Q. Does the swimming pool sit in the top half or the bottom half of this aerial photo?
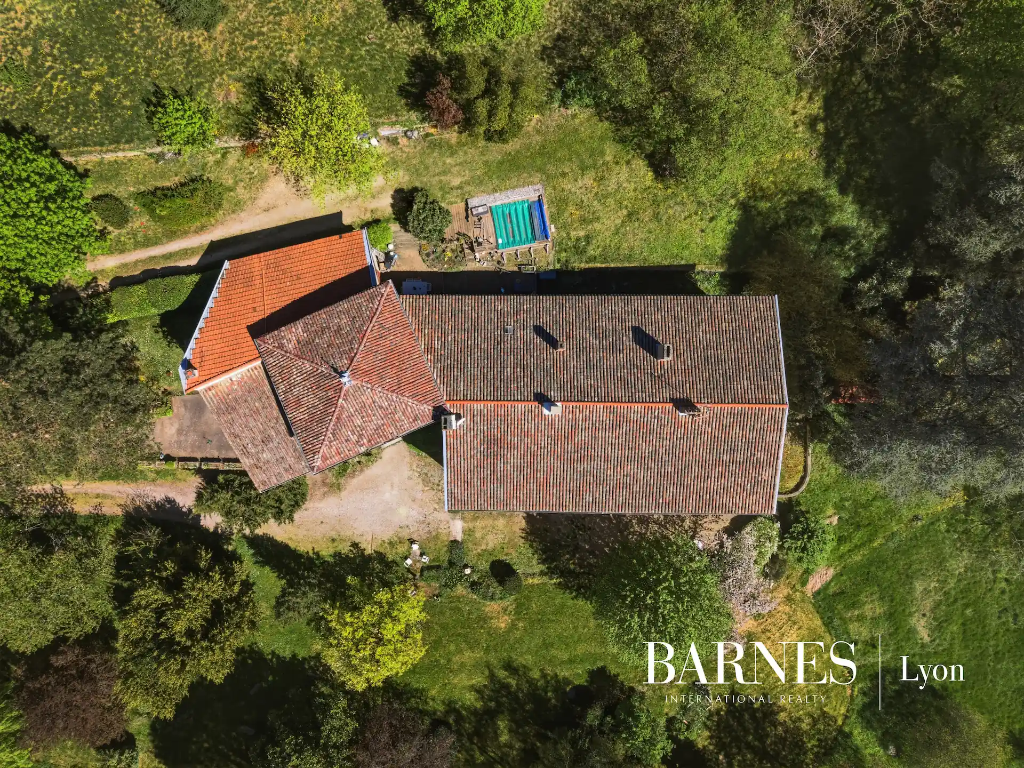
top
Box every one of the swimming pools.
[488,193,554,262]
